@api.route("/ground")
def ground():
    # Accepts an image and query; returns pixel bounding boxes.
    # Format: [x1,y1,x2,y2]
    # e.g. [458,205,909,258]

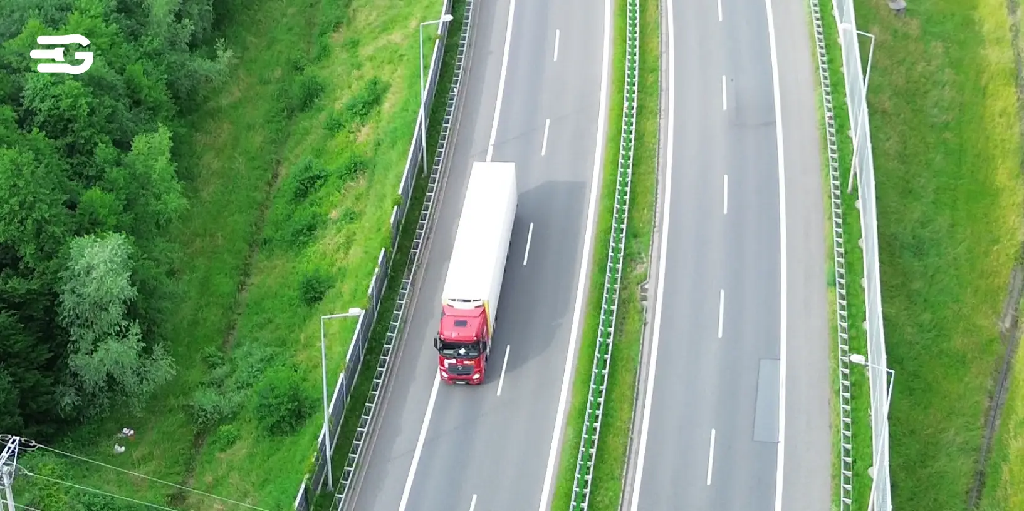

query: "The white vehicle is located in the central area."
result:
[431,162,515,384]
